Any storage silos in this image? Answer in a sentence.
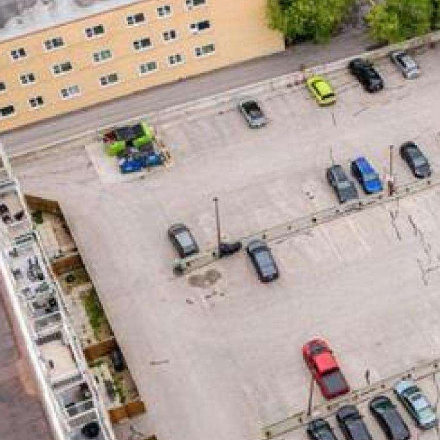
No, the photo shows no storage silo.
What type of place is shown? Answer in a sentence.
This image shows a parking lot.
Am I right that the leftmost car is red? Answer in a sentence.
No, from above the leftmost car looks gray.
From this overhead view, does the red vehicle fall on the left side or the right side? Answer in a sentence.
You can find the red vehicle on the right side of the picture.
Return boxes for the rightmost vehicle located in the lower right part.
[396,379,437,433]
